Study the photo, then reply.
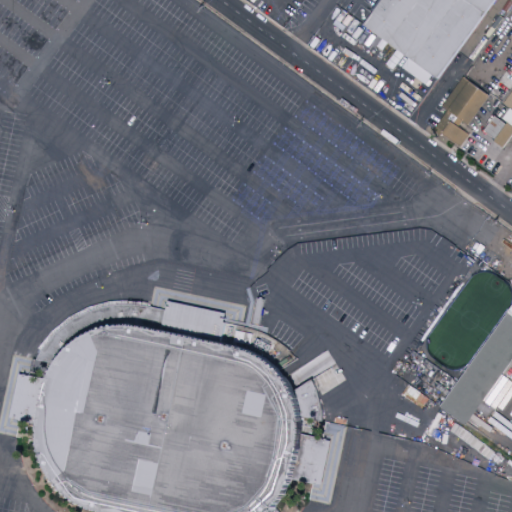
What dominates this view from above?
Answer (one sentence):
The largest share of the image is taken up by paved ground.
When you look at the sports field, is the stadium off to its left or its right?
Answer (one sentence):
The sports field has the stadium on its left side.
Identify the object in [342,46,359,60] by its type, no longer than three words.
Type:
vehicle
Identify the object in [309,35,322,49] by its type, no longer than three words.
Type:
vehicle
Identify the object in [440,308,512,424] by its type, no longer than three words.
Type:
building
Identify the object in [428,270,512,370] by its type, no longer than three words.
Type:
sports field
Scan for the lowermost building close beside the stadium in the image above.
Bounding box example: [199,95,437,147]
[297,434,332,484]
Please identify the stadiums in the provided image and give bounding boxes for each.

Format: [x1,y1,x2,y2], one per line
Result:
[34,325,304,512]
